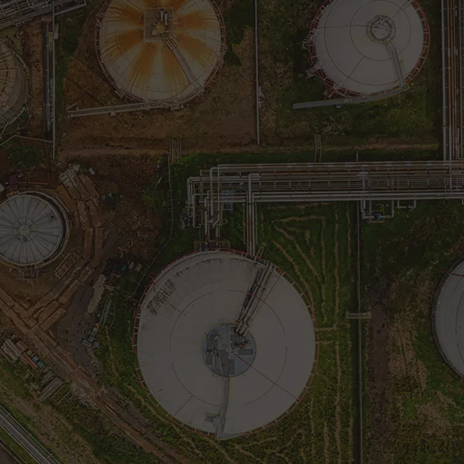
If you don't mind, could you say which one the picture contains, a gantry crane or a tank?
tank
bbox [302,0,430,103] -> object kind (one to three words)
storage tank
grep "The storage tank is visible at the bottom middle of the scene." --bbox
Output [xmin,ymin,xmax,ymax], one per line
[136,243,317,441]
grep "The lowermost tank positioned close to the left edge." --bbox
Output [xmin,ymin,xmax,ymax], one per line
[0,191,68,275]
